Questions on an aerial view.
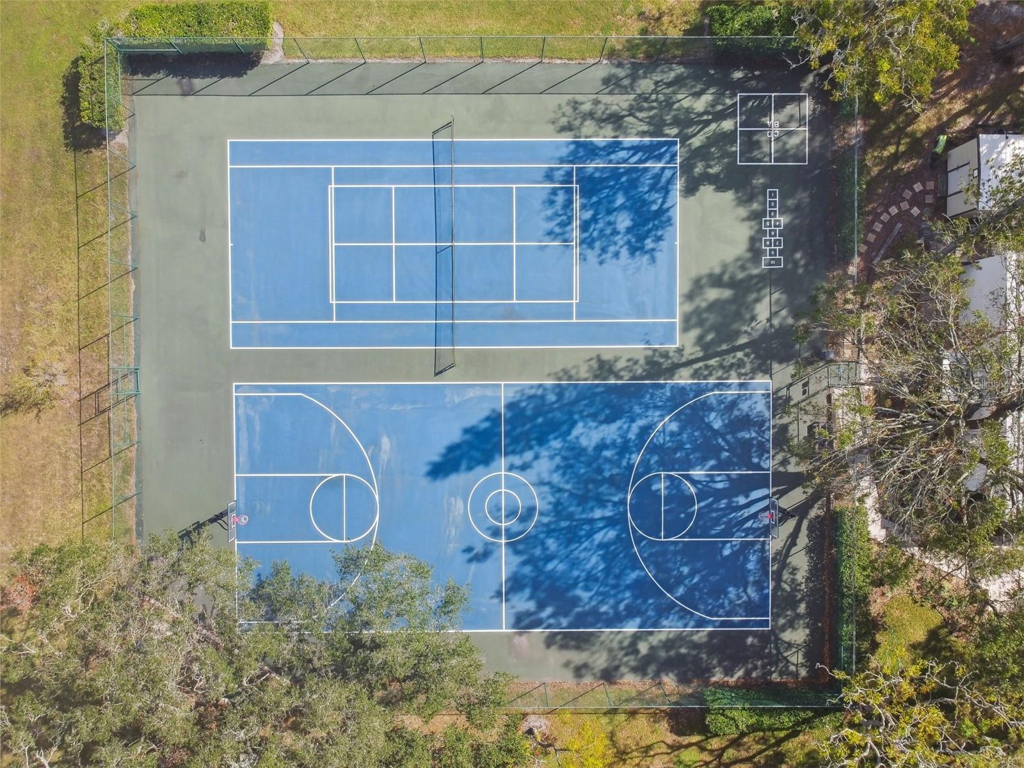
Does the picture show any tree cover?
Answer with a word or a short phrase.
Yes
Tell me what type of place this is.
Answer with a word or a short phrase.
sports ground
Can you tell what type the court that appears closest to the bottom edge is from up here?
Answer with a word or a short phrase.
basketball court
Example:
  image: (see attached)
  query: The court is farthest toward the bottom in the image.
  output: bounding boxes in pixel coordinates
[233,381,771,632]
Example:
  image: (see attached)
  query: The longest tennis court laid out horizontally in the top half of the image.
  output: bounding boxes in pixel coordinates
[228,139,679,349]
